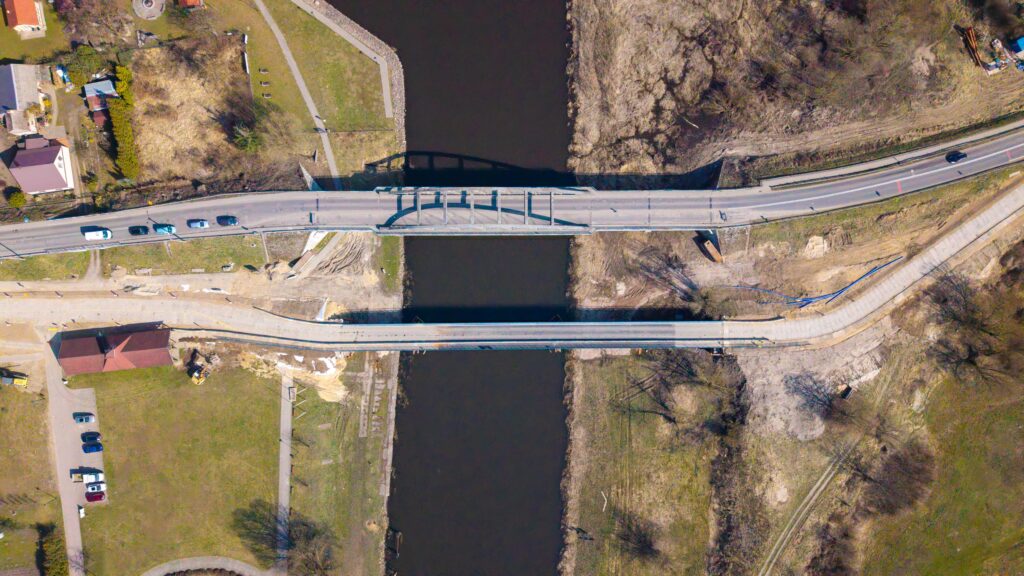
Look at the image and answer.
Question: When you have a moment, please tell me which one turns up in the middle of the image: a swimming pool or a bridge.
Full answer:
You can see a bridge in the middle of the image.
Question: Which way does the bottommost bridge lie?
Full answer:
The bottommost bridge is oriented from left to right.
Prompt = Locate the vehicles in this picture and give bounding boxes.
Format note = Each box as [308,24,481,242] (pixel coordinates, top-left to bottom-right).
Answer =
[79,473,106,484]
[217,215,240,227]
[83,228,115,242]
[82,433,103,444]
[82,443,104,454]
[945,151,968,165]
[87,483,108,494]
[129,225,150,236]
[157,223,178,235]
[189,219,210,230]
[74,415,96,425]
[0,377,27,388]
[87,492,108,503]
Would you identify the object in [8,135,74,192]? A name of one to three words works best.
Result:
house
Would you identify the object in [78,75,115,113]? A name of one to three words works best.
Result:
shed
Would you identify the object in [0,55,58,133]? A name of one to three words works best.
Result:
house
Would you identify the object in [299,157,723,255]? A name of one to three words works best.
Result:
bridge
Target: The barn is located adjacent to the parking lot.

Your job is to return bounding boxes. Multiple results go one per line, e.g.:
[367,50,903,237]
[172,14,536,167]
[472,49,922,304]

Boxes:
[56,326,180,378]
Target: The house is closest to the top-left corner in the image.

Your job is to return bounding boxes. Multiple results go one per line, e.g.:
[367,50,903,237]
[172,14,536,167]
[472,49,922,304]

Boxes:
[3,0,50,39]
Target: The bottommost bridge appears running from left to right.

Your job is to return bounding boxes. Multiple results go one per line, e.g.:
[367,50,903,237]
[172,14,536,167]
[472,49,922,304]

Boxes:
[318,300,757,353]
